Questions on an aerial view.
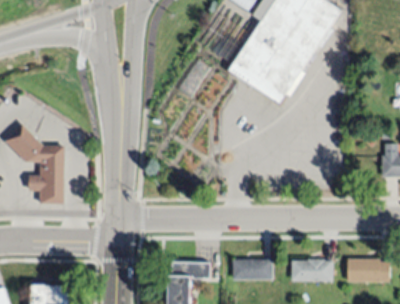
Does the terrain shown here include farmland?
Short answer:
No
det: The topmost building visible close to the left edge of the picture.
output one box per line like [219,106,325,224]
[6,127,64,204]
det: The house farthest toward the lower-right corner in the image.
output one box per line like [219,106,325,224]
[347,259,392,284]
